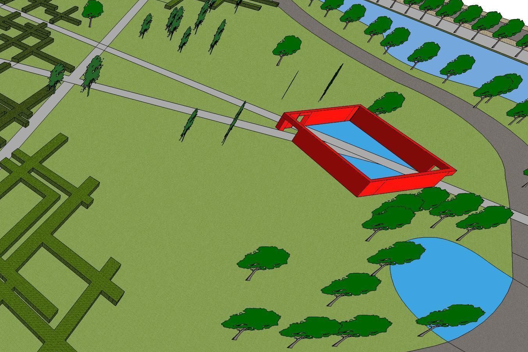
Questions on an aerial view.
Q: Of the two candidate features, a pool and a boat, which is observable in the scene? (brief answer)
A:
pool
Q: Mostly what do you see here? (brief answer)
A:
grass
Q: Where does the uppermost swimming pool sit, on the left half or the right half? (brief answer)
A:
right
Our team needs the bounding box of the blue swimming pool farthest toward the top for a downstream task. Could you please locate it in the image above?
[284,121,414,178]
